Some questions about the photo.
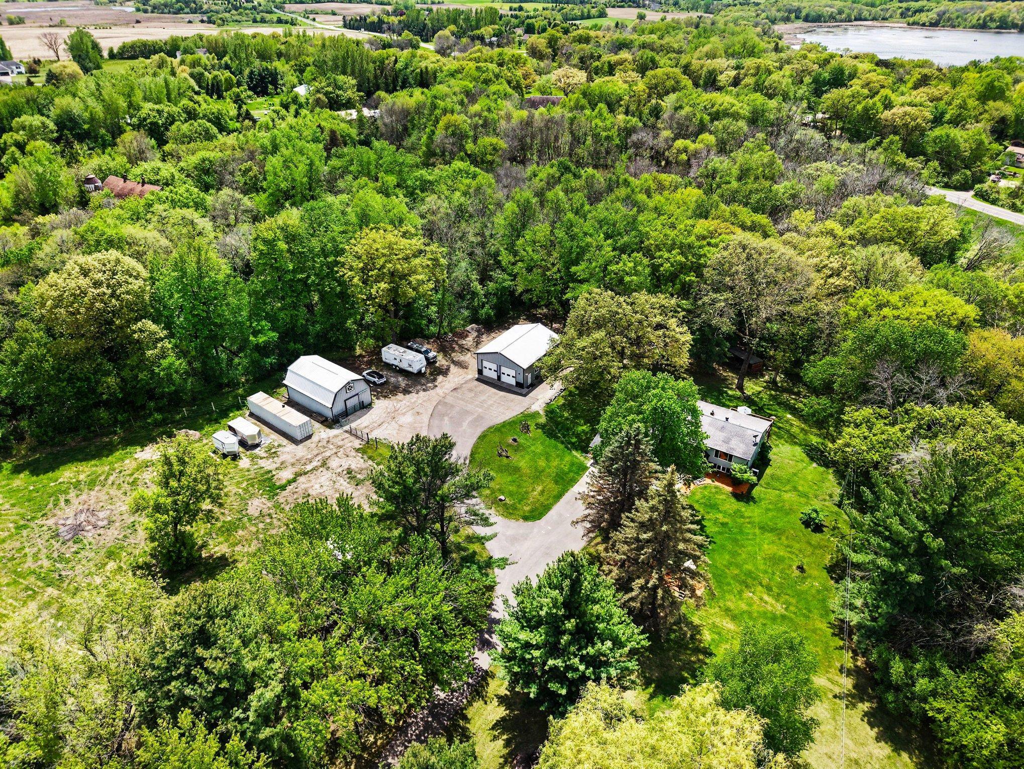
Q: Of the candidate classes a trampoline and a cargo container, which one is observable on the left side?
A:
cargo container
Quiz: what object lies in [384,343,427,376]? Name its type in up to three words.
trailer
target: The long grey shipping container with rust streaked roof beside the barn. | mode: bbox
[247,391,313,440]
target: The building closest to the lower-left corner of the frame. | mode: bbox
[287,357,372,421]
